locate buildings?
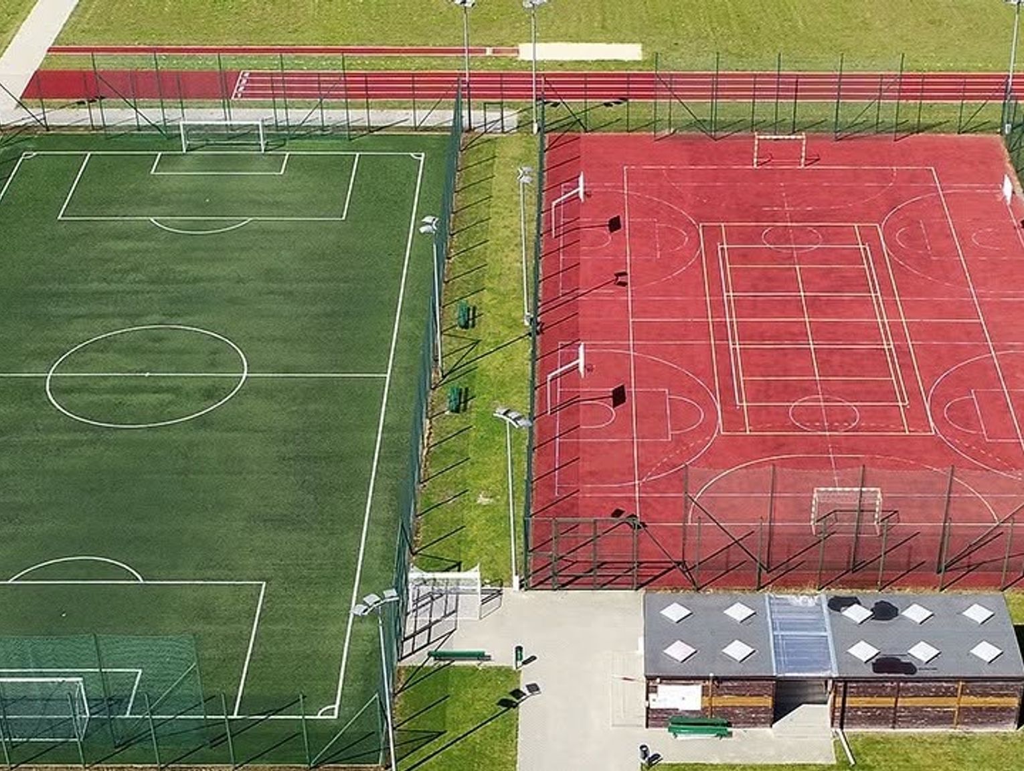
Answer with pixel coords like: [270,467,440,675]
[638,590,1024,727]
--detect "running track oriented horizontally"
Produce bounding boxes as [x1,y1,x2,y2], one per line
[20,70,1024,101]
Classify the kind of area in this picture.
sports ground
